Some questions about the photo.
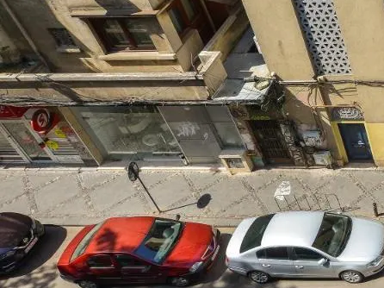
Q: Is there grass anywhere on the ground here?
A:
No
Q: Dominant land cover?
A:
buildings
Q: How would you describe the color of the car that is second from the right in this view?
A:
red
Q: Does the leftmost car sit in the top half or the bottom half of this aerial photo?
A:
bottom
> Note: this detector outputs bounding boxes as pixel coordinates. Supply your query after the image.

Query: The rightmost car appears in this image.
[221,207,384,287]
